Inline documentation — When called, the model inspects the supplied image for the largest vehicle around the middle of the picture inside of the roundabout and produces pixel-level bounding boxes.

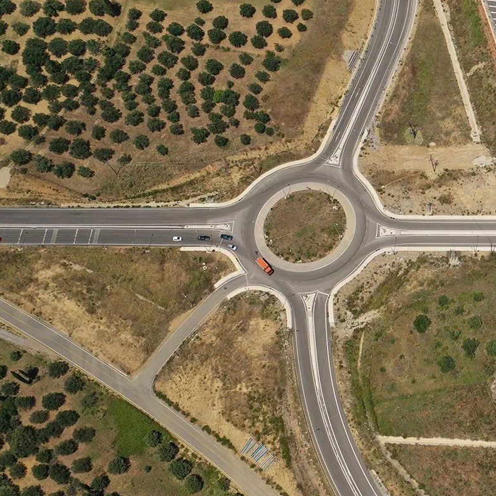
[255,256,274,275]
